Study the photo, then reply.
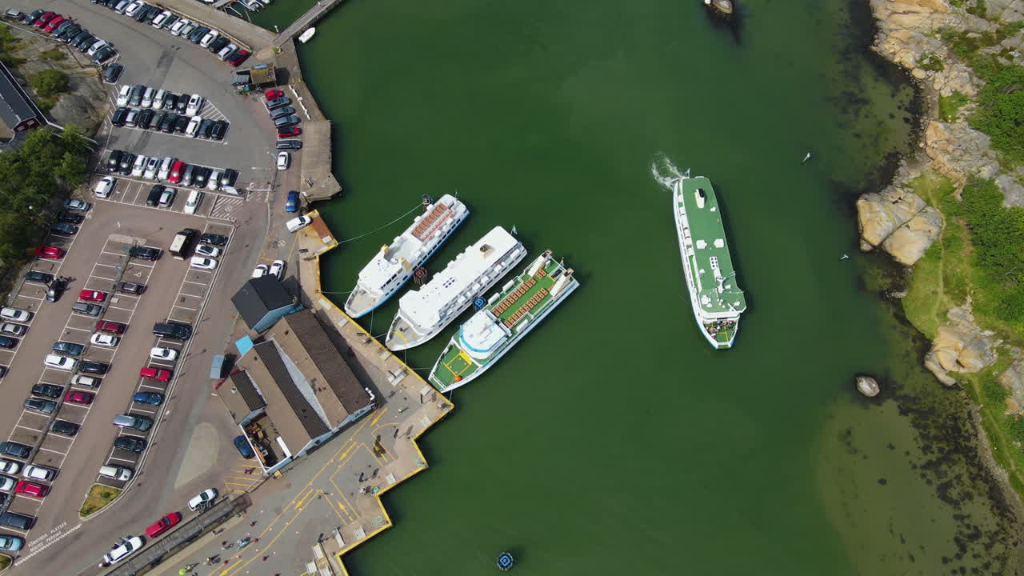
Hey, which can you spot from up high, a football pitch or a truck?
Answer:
truck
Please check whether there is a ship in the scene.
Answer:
Yes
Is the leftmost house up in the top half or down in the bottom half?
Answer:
top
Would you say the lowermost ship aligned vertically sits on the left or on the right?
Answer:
right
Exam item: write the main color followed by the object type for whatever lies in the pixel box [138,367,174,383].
red vehicle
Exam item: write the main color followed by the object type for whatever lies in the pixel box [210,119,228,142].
black car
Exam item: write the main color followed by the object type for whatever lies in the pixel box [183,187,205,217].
white vehicle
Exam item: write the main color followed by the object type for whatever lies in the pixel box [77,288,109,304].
red car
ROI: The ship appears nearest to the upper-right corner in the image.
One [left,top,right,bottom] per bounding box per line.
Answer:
[670,168,748,348]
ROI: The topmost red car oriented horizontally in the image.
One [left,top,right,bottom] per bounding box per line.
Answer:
[263,88,287,102]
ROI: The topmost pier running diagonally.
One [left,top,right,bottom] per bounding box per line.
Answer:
[272,0,341,49]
